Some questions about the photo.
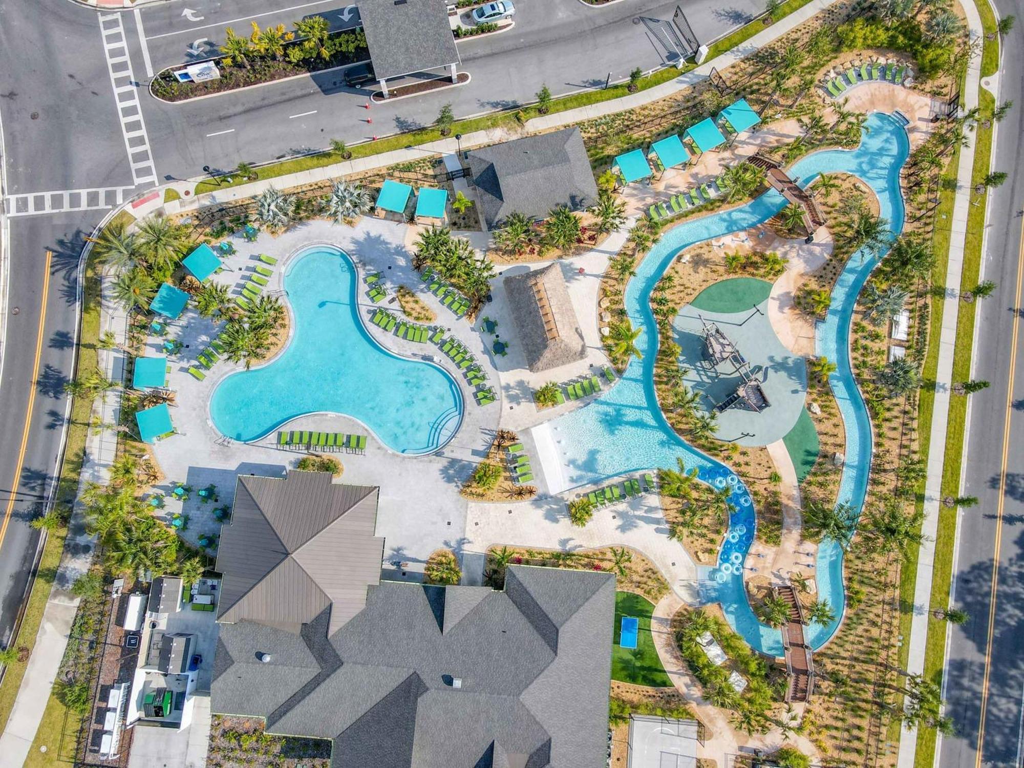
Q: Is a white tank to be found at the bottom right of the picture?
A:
No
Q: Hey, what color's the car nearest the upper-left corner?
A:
black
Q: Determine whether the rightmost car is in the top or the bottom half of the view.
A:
top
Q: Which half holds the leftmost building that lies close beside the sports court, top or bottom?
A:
bottom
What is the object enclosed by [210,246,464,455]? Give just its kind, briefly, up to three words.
swimming pool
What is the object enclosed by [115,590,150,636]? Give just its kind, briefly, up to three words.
storage tank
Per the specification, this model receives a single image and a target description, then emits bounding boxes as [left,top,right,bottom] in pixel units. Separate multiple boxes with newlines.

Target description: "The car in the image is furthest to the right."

[469,0,517,26]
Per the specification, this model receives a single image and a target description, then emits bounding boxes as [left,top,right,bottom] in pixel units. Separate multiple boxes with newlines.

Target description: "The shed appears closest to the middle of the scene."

[503,262,589,374]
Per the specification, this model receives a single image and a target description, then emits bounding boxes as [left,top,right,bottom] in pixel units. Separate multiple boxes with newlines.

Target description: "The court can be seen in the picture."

[630,718,697,768]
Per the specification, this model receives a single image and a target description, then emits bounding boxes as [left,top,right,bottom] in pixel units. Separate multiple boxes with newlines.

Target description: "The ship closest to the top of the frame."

[695,314,741,376]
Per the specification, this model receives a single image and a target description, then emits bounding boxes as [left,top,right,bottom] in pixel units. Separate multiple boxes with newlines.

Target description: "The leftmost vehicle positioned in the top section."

[342,60,377,89]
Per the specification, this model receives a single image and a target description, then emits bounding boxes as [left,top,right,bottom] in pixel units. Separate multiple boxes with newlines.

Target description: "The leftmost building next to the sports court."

[209,470,615,768]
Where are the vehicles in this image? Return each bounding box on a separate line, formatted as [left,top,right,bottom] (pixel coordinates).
[342,60,377,89]
[469,0,517,26]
